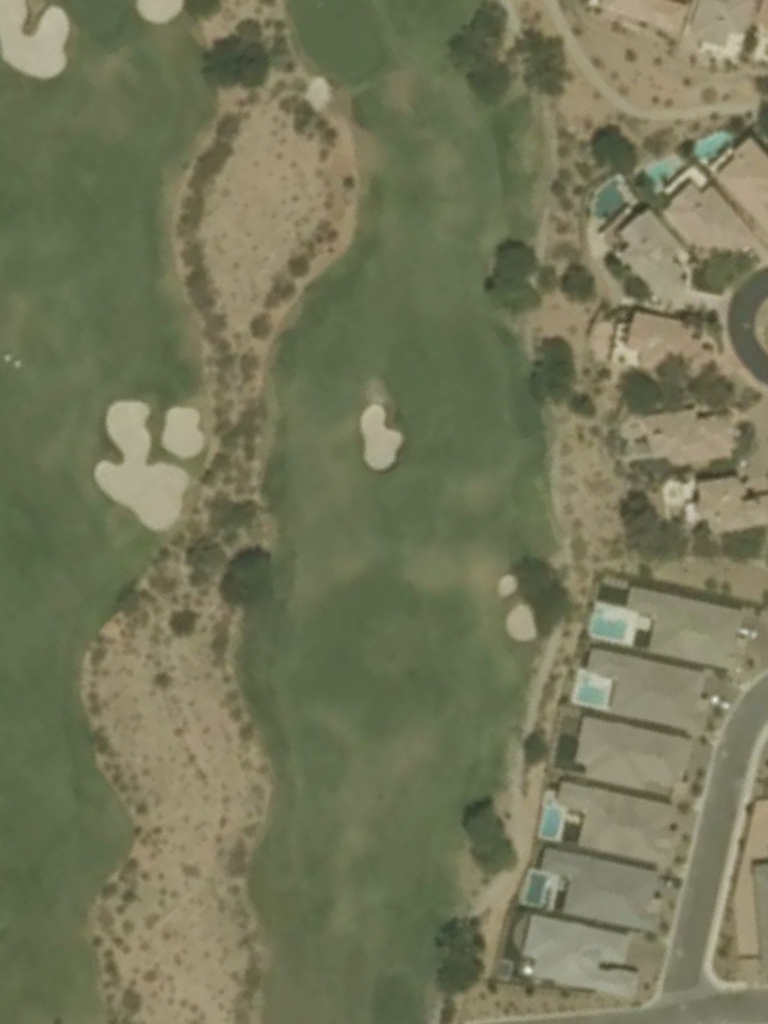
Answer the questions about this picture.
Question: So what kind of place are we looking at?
golf course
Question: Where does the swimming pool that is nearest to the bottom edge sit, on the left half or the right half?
right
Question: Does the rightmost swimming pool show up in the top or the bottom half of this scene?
top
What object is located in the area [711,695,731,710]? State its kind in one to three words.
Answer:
car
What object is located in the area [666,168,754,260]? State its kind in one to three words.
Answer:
house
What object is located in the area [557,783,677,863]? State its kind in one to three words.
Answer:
house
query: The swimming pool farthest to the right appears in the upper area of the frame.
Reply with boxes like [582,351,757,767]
[693,127,736,165]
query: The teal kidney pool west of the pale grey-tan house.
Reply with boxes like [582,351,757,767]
[590,175,639,224]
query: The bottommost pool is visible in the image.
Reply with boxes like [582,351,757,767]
[518,868,564,912]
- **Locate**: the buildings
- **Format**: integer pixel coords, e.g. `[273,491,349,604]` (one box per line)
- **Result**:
[716,135,768,224]
[627,587,743,665]
[628,311,711,381]
[539,850,657,929]
[522,917,636,1000]
[557,783,677,863]
[620,212,694,303]
[690,0,758,50]
[631,412,740,464]
[589,0,673,32]
[666,168,754,260]
[574,718,692,795]
[687,478,768,535]
[589,649,703,733]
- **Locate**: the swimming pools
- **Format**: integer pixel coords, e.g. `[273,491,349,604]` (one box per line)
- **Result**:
[518,868,564,912]
[693,127,736,165]
[590,175,639,224]
[588,600,651,648]
[572,668,612,710]
[539,791,580,843]
[645,154,685,191]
